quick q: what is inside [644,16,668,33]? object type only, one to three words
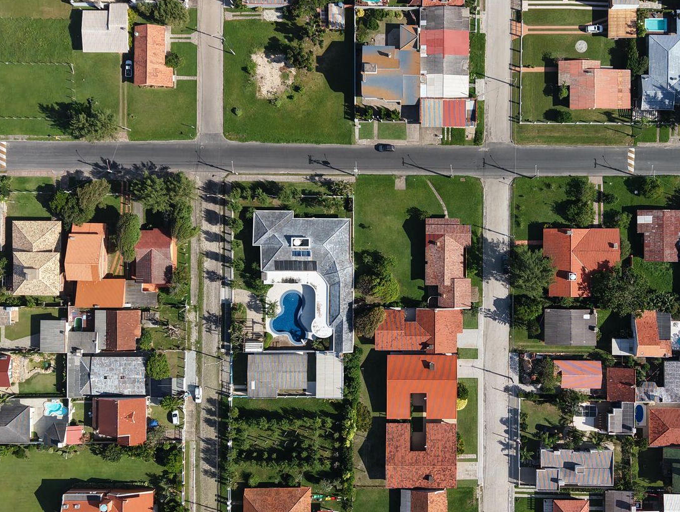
swimming pool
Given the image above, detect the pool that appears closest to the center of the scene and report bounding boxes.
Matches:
[269,288,308,344]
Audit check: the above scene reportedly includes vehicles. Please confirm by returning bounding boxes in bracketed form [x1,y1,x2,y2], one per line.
[172,409,180,427]
[376,143,394,152]
[194,385,204,403]
[502,257,509,274]
[124,58,133,79]
[585,25,604,33]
